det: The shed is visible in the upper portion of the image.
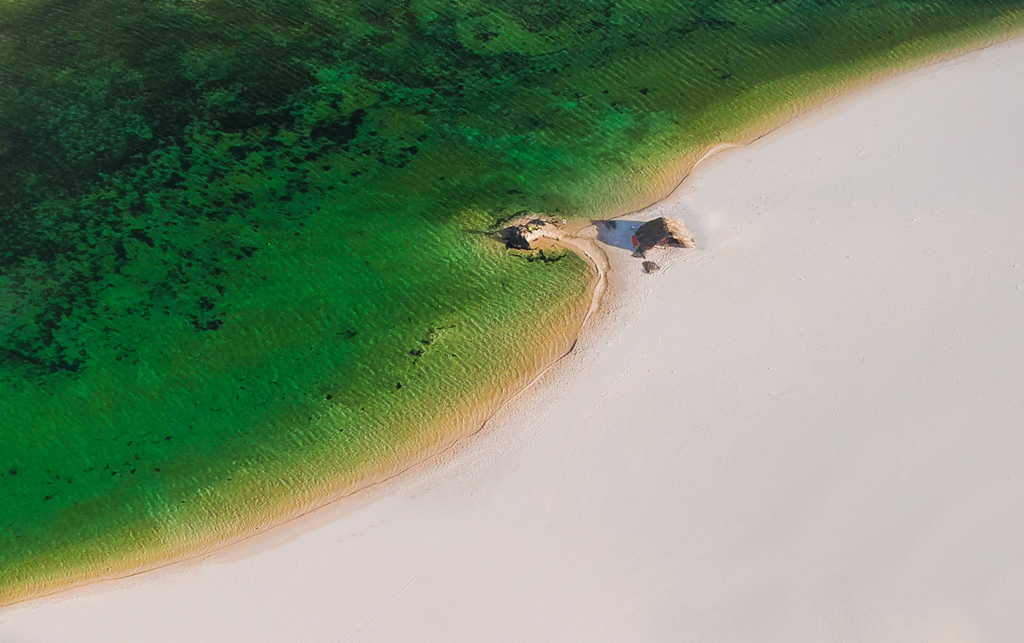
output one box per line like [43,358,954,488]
[634,212,695,249]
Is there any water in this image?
Yes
